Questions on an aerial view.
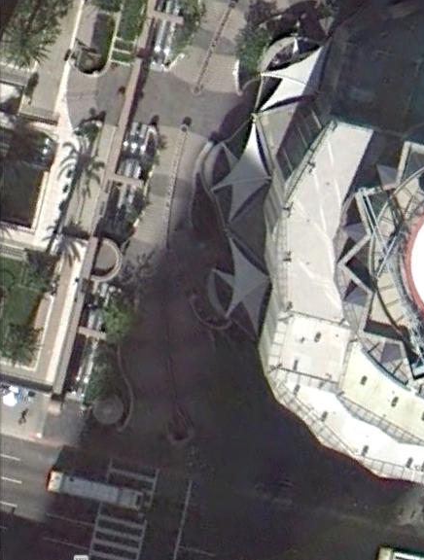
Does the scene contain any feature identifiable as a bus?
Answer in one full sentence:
Yes, there is a bus in the image.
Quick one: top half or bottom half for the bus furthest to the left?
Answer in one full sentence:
You can find the bus furthest to the left in the bottom half.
